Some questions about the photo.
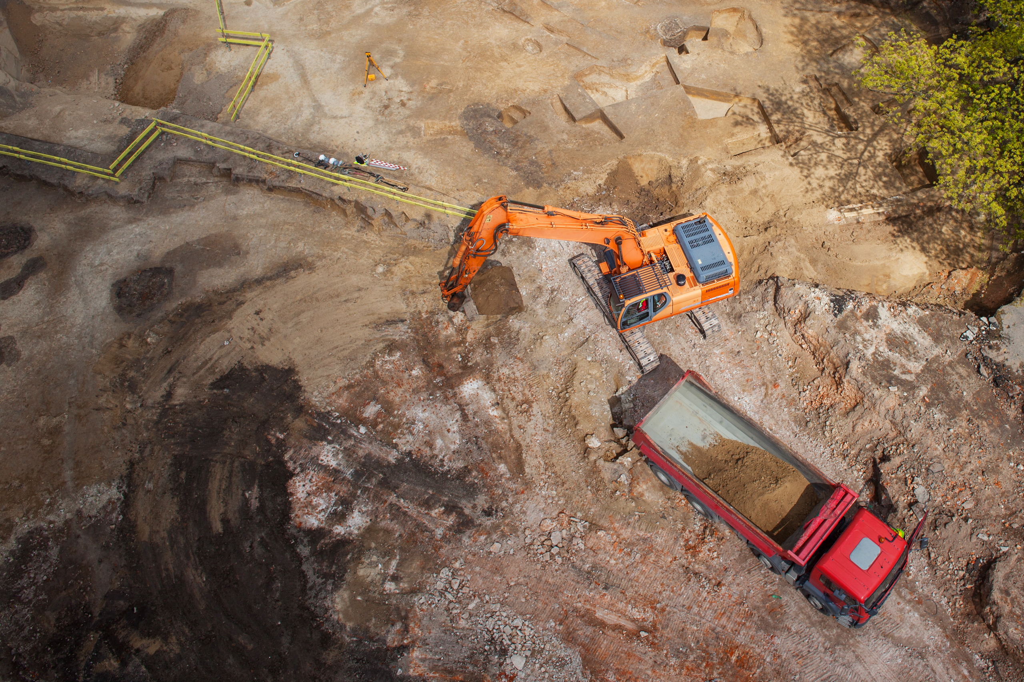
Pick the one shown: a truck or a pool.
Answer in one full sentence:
I can see a truck in this picture.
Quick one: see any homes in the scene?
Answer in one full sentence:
No, no home can be seen from above.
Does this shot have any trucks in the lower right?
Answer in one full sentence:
Yes, looking in the lower right, one can make out a truck.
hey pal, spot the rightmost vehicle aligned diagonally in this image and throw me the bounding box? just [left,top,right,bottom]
[633,367,935,635]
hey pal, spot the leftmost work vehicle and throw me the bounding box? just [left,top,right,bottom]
[438,191,745,376]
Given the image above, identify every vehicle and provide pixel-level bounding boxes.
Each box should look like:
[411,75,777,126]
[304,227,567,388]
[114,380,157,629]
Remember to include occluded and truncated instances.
[633,367,935,635]
[438,191,745,376]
